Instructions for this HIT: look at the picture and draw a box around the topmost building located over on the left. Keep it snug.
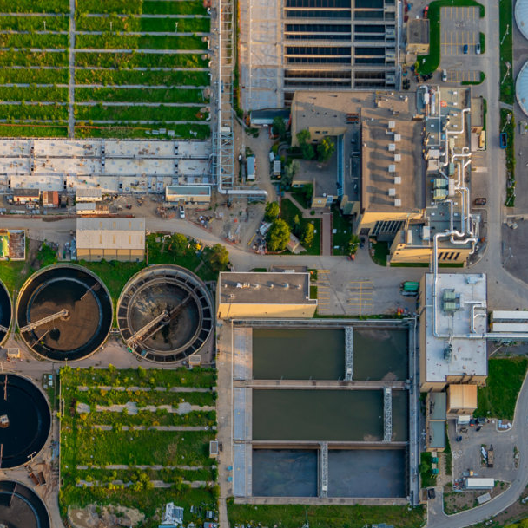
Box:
[166,186,210,202]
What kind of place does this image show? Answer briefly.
industrial area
